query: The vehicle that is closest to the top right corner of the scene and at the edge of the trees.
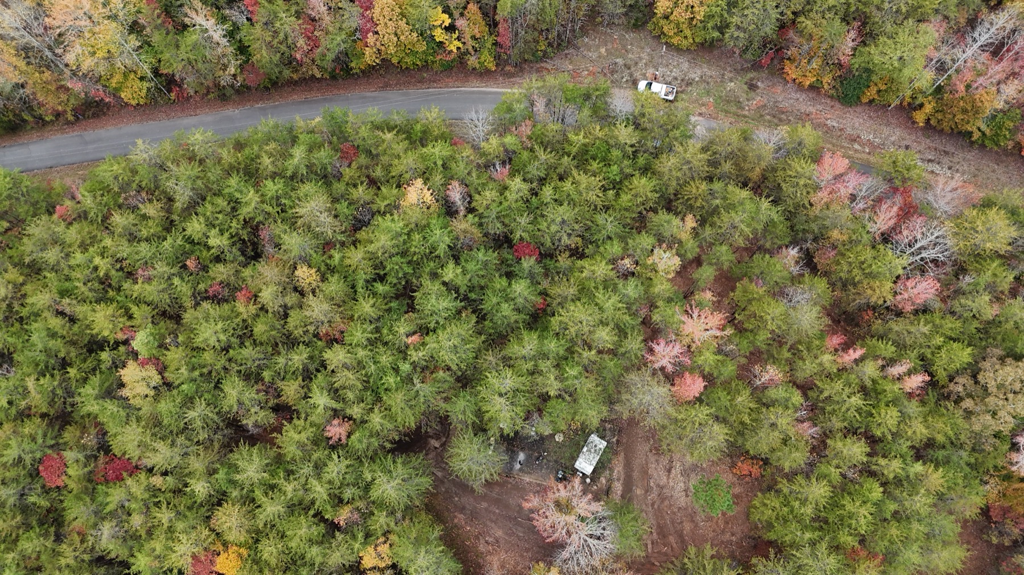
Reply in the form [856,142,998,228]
[636,79,677,99]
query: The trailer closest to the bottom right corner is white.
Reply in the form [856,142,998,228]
[574,434,606,478]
